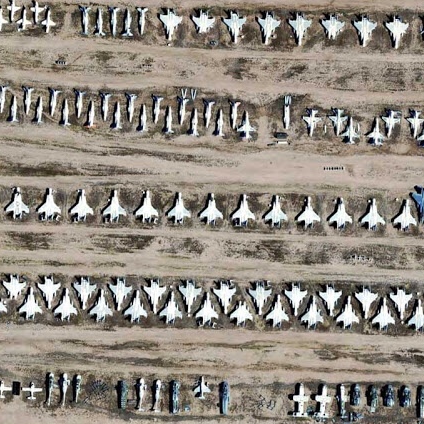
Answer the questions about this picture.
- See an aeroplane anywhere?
Yes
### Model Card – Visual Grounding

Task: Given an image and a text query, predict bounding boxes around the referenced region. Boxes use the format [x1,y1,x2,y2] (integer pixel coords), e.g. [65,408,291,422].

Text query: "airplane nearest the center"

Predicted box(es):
[201,193,223,225]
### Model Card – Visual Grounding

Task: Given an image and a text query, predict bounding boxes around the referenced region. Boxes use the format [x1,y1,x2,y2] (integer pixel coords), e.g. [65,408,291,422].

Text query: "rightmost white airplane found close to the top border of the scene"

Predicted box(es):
[386,16,409,48]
